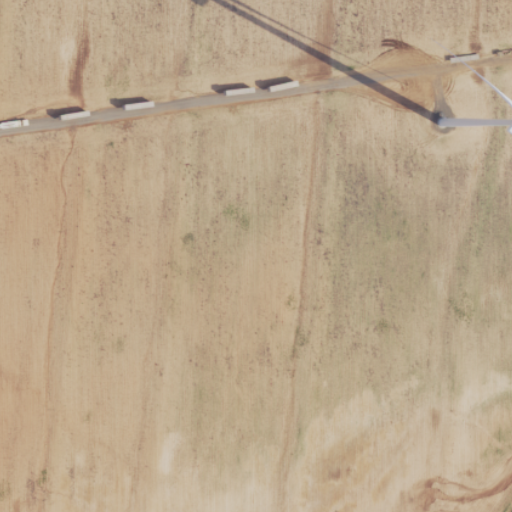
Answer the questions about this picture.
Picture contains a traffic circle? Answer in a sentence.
No, there is no traffic circle in the image.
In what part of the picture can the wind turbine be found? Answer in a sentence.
You can find the wind turbine in the top right area of the picture.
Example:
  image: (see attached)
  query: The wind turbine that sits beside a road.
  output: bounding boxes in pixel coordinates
[434,40,512,132]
